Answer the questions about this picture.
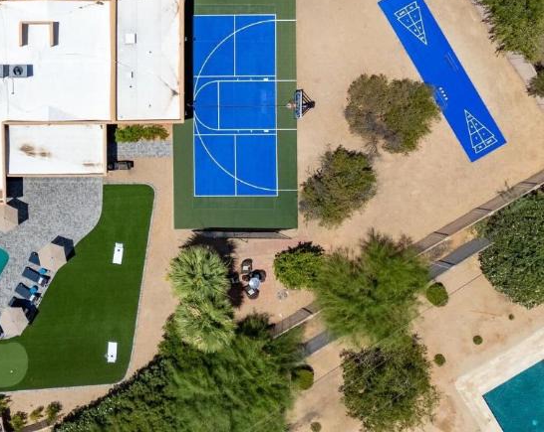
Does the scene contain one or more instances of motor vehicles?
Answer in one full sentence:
No, the scene contains no motor vehicle.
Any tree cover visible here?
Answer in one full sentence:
Yes, tree cover can be seen from above here.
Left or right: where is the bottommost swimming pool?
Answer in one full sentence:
You can find the bottommost swimming pool on the right side of the picture.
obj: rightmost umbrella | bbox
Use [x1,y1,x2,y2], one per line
[38,243,66,272]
